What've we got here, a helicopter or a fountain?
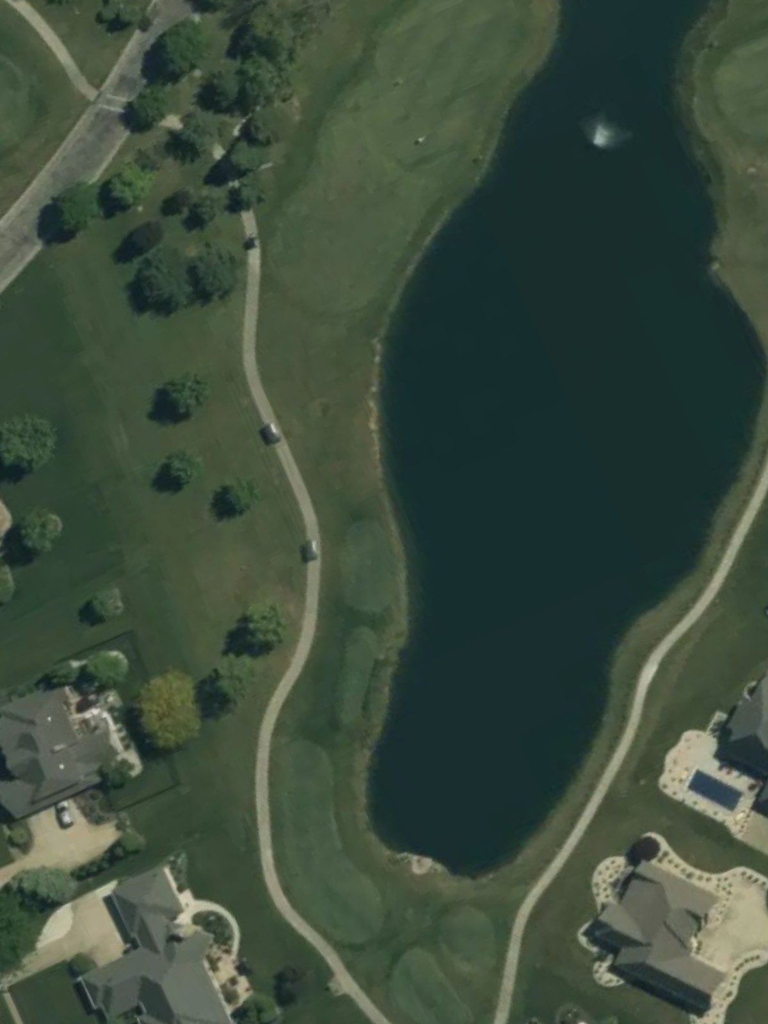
fountain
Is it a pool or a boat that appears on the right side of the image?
pool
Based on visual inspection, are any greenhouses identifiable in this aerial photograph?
No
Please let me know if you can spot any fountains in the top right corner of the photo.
Yes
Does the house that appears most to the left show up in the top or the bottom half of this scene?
bottom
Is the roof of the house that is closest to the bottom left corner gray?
Yes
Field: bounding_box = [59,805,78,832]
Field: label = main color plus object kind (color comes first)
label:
gray car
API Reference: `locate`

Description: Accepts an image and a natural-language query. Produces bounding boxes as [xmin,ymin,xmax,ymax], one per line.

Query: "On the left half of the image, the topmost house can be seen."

[0,685,127,817]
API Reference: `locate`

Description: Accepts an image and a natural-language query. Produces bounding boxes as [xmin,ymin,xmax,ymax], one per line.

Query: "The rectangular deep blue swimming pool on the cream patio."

[686,767,744,813]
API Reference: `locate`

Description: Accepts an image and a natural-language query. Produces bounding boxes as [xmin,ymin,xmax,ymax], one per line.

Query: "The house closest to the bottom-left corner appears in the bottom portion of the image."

[75,868,239,1024]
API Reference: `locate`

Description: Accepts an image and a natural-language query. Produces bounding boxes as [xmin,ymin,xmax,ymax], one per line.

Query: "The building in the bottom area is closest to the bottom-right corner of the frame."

[595,858,733,1018]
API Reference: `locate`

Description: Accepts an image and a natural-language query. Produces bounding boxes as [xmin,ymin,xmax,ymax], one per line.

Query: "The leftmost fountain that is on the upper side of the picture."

[588,123,623,156]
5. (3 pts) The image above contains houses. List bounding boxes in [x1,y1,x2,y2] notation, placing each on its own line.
[595,858,733,1018]
[75,868,239,1024]
[0,685,127,817]
[723,683,768,802]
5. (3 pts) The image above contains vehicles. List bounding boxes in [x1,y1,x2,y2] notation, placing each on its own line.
[59,805,78,832]
[304,540,319,558]
[246,233,259,250]
[265,423,281,440]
